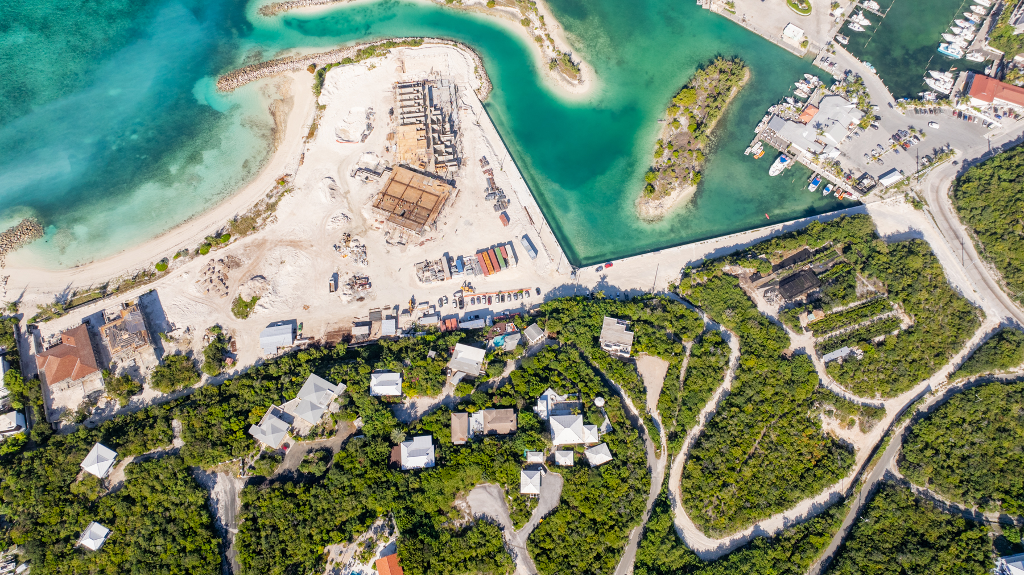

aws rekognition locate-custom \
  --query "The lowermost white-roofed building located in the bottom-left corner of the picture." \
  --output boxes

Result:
[80,522,112,551]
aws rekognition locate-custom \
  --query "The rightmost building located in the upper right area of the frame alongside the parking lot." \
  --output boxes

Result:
[963,74,1024,115]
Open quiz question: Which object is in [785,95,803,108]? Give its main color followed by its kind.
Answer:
white boat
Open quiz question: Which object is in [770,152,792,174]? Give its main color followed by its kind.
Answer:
white boat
